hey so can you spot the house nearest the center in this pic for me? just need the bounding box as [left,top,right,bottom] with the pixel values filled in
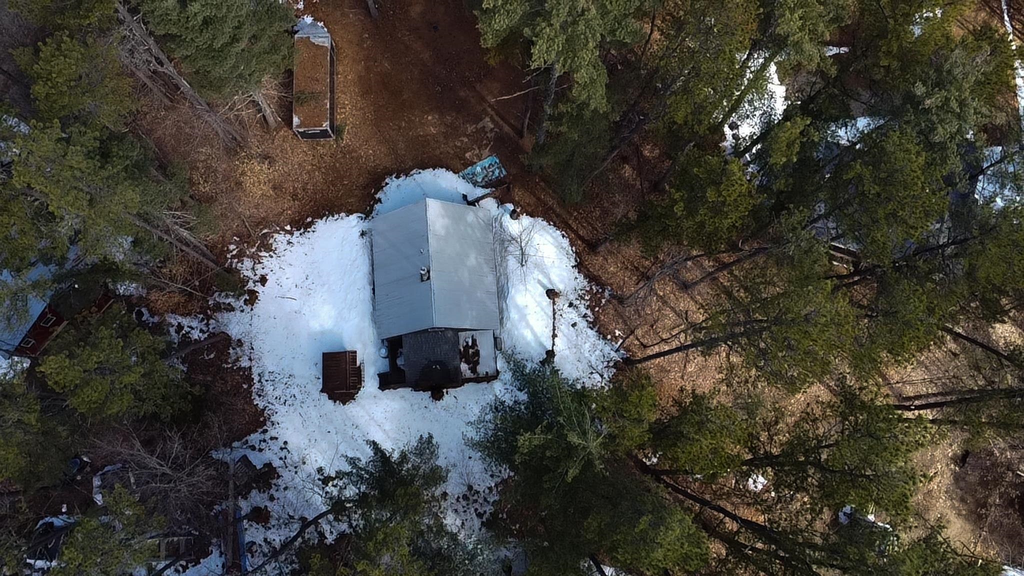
[372,199,502,394]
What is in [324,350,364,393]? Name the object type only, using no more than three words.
shed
